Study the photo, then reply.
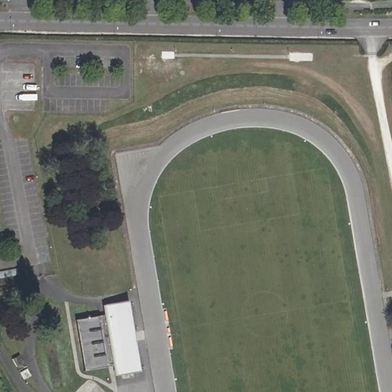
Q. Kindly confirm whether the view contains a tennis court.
No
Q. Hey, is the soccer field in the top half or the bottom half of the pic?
bottom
